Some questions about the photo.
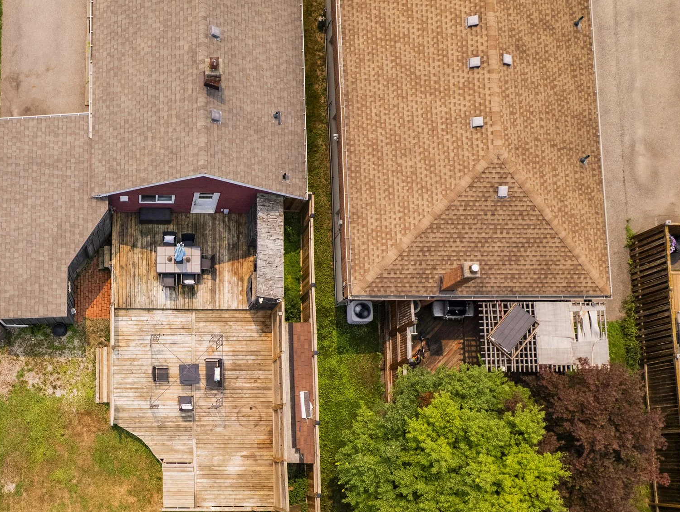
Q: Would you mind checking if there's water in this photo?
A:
No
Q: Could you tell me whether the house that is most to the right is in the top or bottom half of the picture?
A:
top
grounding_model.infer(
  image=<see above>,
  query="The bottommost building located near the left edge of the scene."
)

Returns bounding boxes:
[0,111,110,328]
